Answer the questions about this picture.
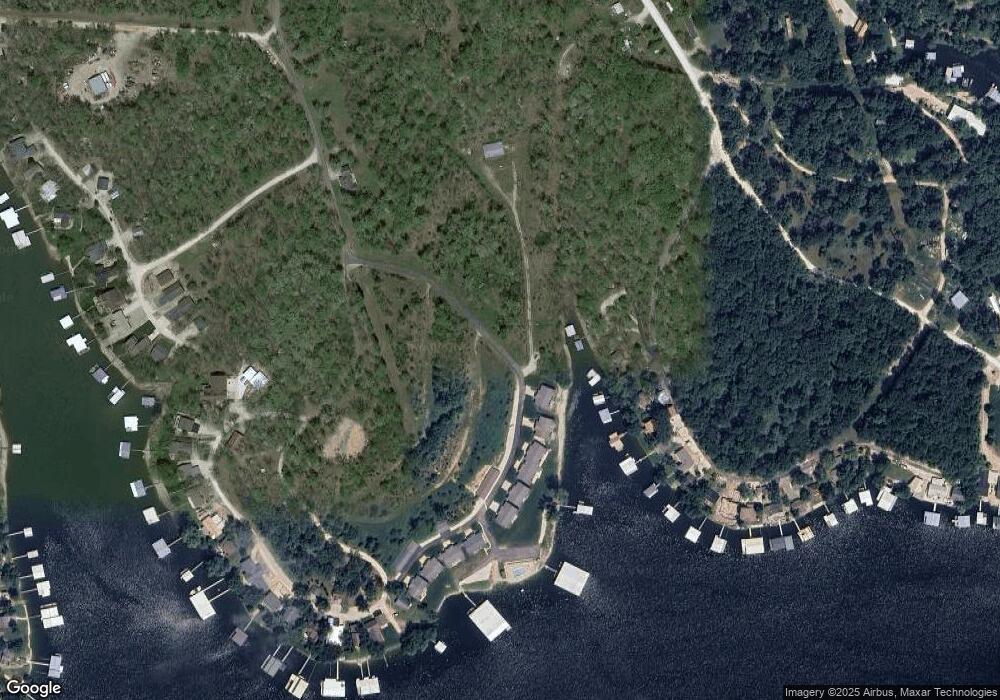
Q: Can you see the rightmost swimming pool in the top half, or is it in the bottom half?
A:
bottom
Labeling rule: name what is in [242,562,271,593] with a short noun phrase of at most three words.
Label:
house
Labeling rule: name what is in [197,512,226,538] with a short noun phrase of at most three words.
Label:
house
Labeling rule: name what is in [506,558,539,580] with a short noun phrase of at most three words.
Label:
swimming pool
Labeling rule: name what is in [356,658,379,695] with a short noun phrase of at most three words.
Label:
pier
